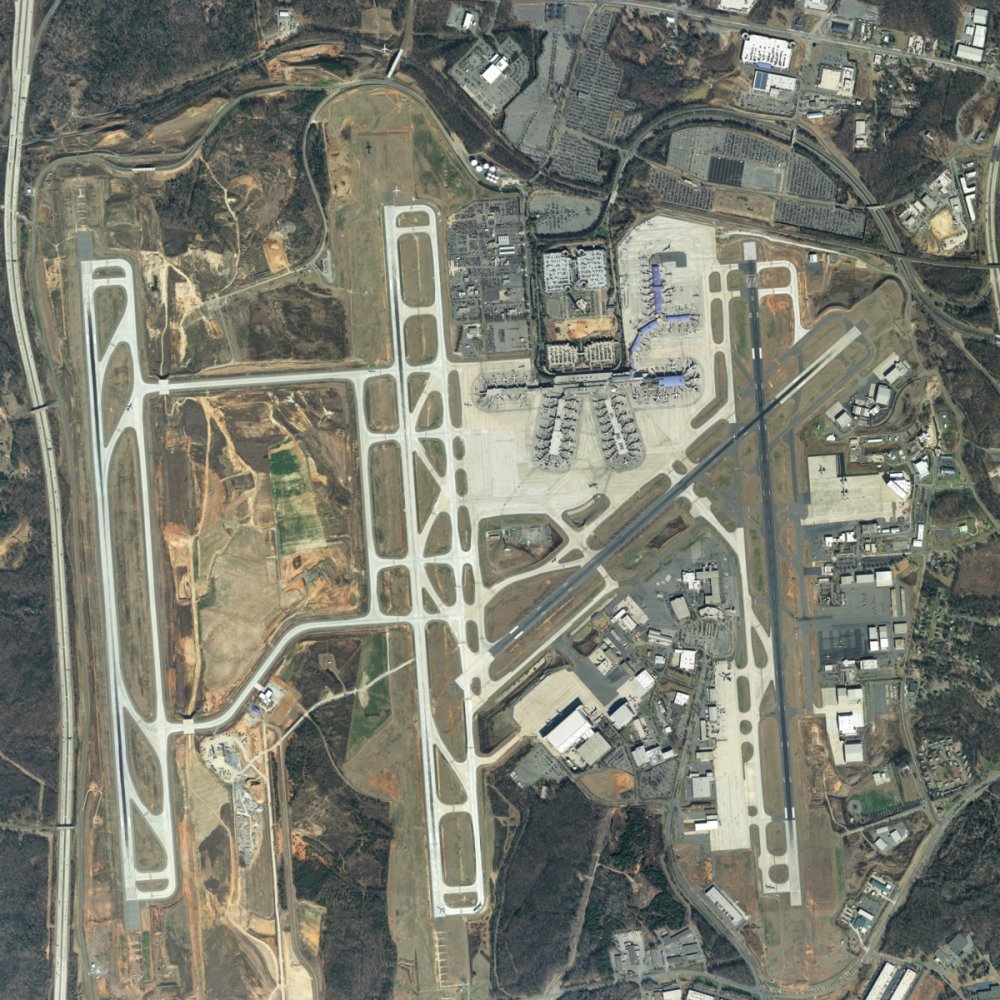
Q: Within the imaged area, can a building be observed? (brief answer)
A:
Yes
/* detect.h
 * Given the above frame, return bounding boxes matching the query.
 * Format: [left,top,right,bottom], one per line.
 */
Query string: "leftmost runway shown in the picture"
[77,232,141,929]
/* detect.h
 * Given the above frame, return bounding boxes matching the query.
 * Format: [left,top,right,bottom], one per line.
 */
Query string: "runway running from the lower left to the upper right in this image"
[487,325,861,658]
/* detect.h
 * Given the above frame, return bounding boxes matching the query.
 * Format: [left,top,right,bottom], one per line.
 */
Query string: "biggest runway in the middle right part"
[743,241,801,906]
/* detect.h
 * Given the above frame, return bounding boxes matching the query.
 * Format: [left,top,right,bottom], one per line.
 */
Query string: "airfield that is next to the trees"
[77,202,909,929]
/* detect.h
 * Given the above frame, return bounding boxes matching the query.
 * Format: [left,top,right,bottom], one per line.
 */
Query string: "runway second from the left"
[384,205,447,928]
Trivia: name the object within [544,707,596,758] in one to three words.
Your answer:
hangar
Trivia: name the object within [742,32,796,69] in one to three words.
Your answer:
building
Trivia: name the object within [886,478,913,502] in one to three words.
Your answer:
hangar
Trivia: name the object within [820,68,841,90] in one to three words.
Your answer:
building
